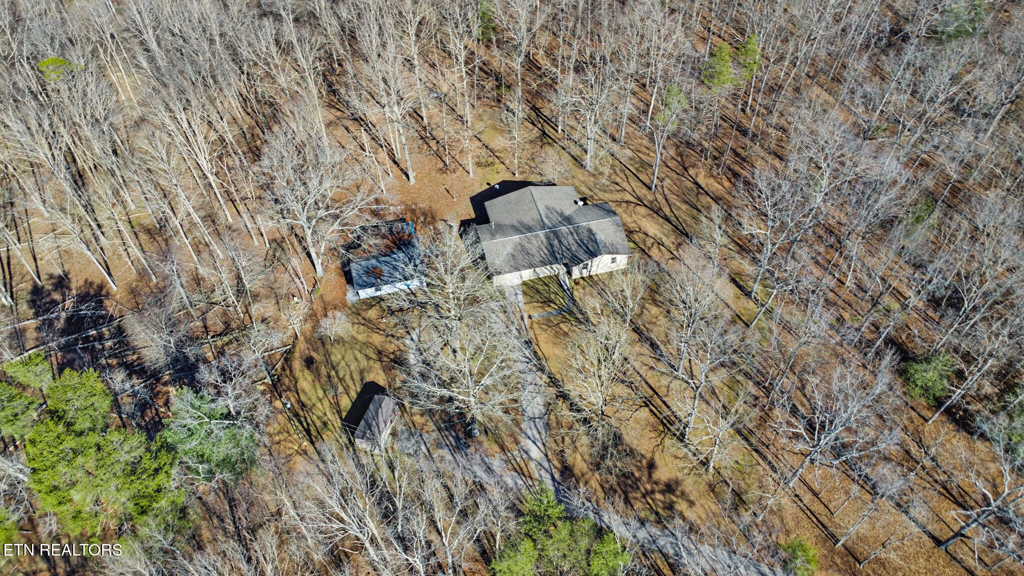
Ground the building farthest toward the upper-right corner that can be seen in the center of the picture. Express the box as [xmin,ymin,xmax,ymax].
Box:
[476,186,632,285]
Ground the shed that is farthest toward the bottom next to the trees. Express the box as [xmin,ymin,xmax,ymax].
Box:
[354,395,399,451]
